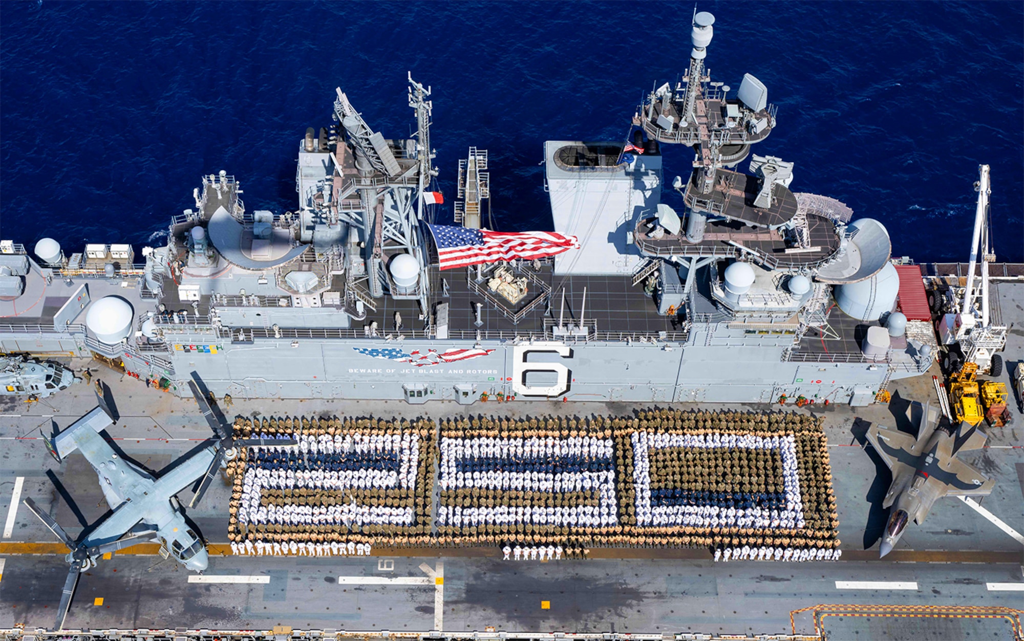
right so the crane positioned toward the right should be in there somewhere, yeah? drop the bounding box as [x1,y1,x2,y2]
[933,164,1011,381]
